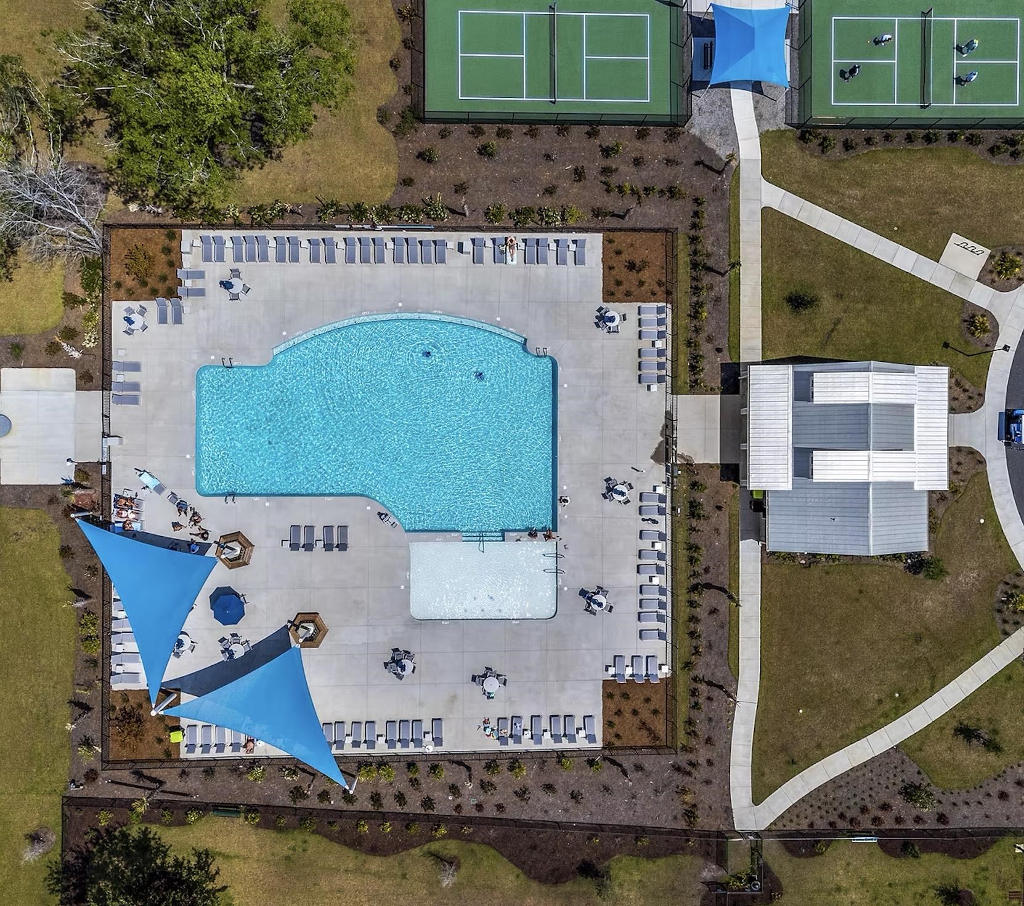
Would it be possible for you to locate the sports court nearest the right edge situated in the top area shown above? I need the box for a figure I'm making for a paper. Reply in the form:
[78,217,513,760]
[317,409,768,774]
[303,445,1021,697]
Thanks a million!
[799,0,1024,129]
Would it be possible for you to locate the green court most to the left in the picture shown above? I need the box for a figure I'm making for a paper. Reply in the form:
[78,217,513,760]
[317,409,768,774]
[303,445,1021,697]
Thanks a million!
[424,0,683,126]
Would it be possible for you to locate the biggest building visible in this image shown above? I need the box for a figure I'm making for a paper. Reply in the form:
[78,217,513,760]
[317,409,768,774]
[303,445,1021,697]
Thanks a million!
[737,361,951,556]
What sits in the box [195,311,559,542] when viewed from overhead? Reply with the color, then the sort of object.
blue swimming pool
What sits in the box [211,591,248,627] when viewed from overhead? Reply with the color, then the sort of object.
blue umbrella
